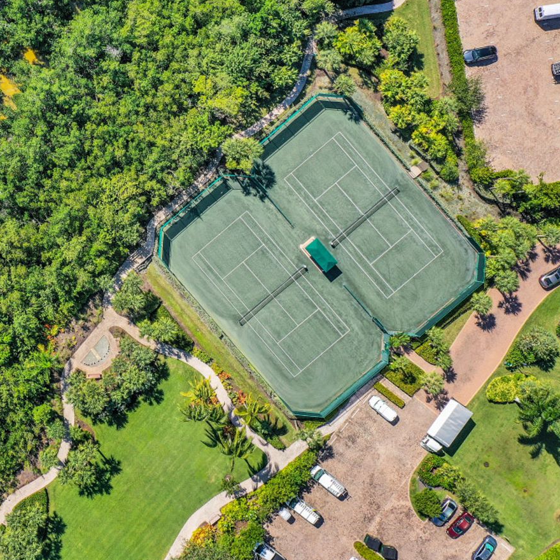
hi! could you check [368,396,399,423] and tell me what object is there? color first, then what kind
white car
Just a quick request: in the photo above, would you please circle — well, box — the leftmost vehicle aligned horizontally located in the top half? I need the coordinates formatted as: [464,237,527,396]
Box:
[463,46,498,62]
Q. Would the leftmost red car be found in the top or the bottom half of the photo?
bottom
